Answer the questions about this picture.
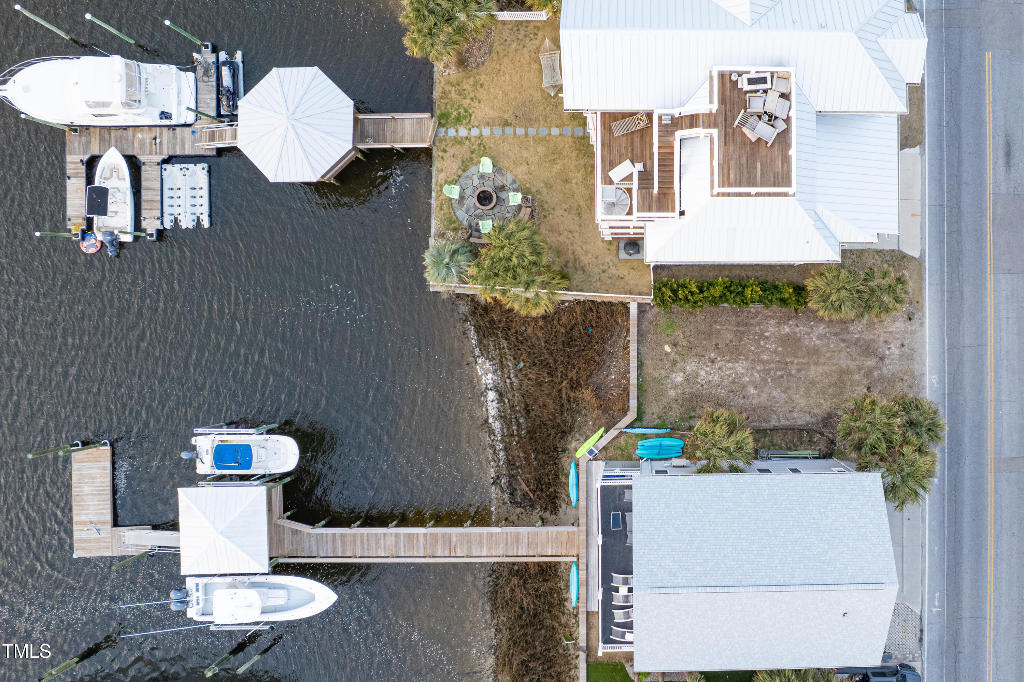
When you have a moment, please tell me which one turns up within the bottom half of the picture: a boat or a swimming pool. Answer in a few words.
boat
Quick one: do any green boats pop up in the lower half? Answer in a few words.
Yes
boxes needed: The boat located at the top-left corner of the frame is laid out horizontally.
[0,38,195,127]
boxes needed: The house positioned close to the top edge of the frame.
[557,0,928,269]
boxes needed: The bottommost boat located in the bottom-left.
[120,574,341,637]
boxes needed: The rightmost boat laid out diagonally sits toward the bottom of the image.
[577,429,604,458]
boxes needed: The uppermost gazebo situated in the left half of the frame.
[237,65,380,196]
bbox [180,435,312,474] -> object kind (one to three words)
boat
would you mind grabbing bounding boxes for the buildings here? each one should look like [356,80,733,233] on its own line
[177,474,299,576]
[557,0,928,269]
[598,458,899,672]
